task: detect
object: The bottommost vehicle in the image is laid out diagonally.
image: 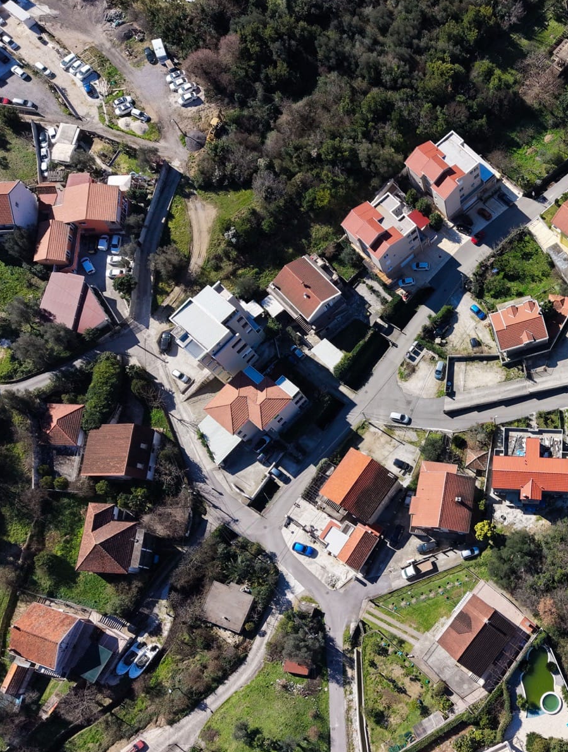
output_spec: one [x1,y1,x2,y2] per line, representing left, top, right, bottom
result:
[126,737,149,752]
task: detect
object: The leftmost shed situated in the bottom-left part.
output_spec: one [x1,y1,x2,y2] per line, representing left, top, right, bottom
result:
[0,663,37,697]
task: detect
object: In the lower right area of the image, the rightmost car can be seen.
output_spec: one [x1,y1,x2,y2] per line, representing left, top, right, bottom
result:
[459,547,479,560]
